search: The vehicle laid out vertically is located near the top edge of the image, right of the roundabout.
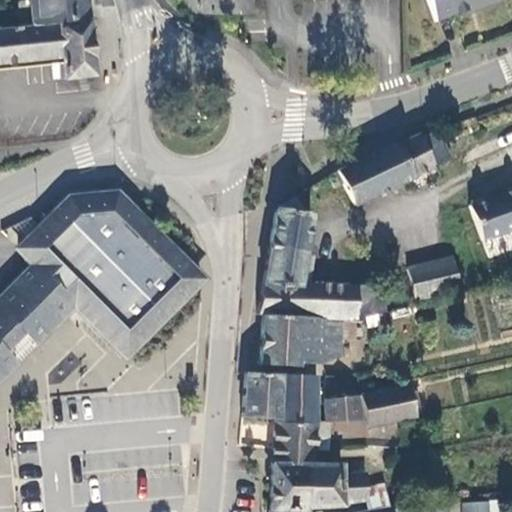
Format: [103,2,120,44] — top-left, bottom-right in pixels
[442,18,456,43]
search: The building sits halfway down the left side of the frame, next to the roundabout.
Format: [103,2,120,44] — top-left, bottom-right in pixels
[0,190,207,382]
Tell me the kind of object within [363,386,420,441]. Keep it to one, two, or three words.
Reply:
building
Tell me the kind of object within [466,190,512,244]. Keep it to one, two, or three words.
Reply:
house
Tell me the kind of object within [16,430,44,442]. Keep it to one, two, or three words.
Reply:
vehicle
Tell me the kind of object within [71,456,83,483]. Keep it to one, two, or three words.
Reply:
vehicle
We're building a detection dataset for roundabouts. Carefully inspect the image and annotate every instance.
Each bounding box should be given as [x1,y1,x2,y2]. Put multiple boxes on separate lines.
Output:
[130,34,252,182]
